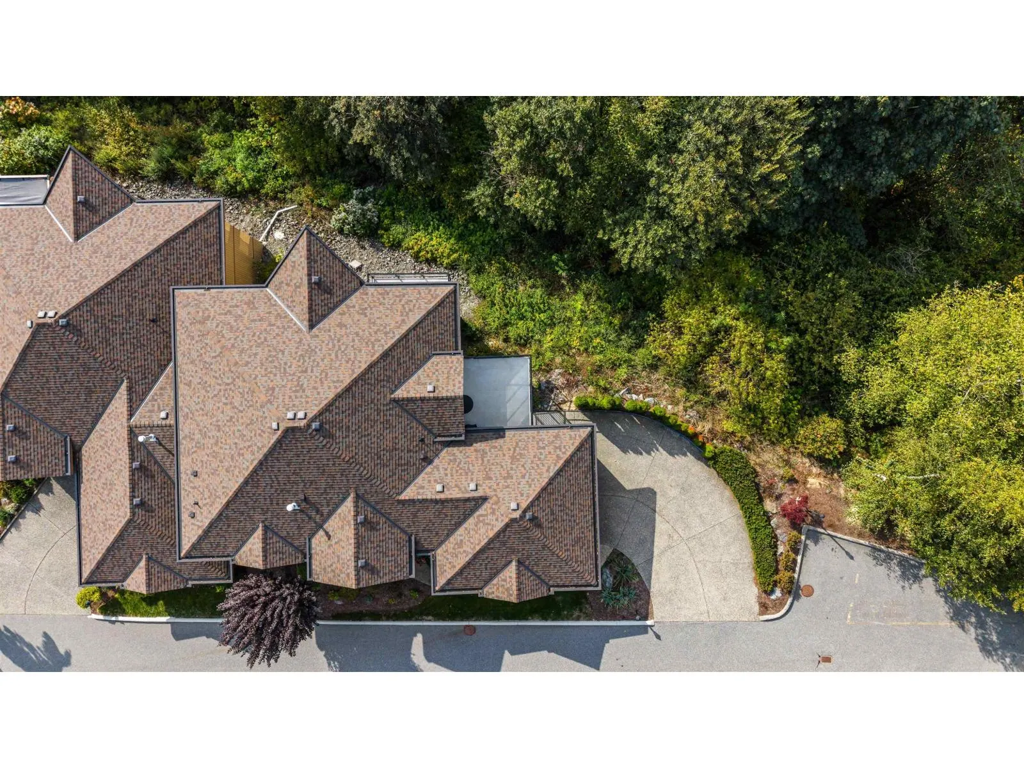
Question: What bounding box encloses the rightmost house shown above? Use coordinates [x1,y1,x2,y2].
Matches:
[169,226,604,602]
